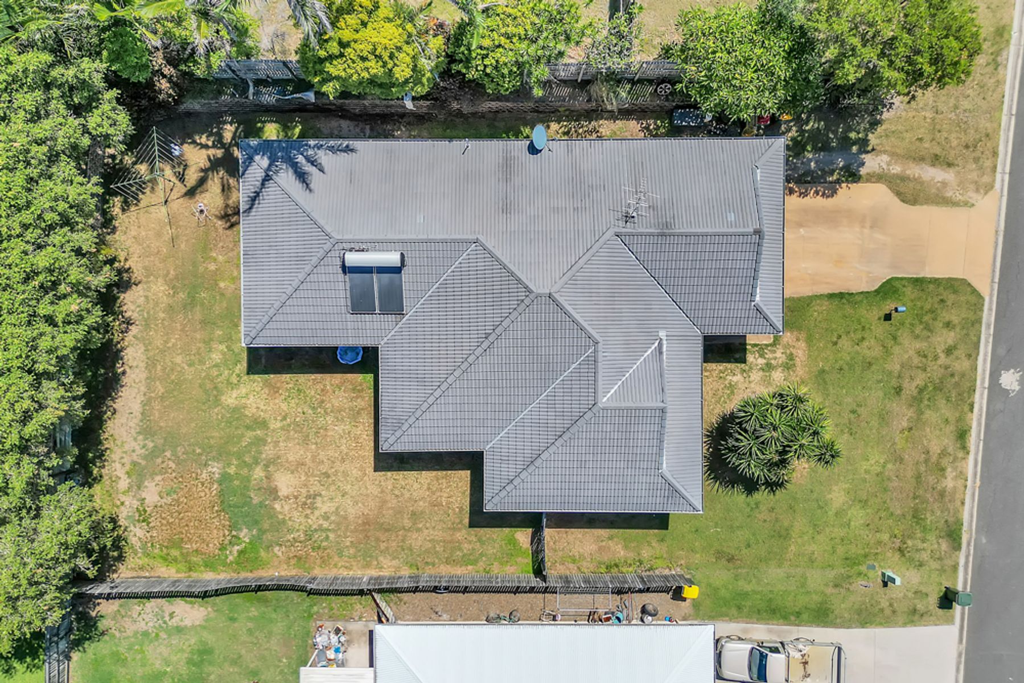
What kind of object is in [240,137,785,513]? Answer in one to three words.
house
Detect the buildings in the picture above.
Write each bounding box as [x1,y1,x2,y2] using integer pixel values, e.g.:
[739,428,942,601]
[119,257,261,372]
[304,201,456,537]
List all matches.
[240,137,785,513]
[372,616,717,683]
